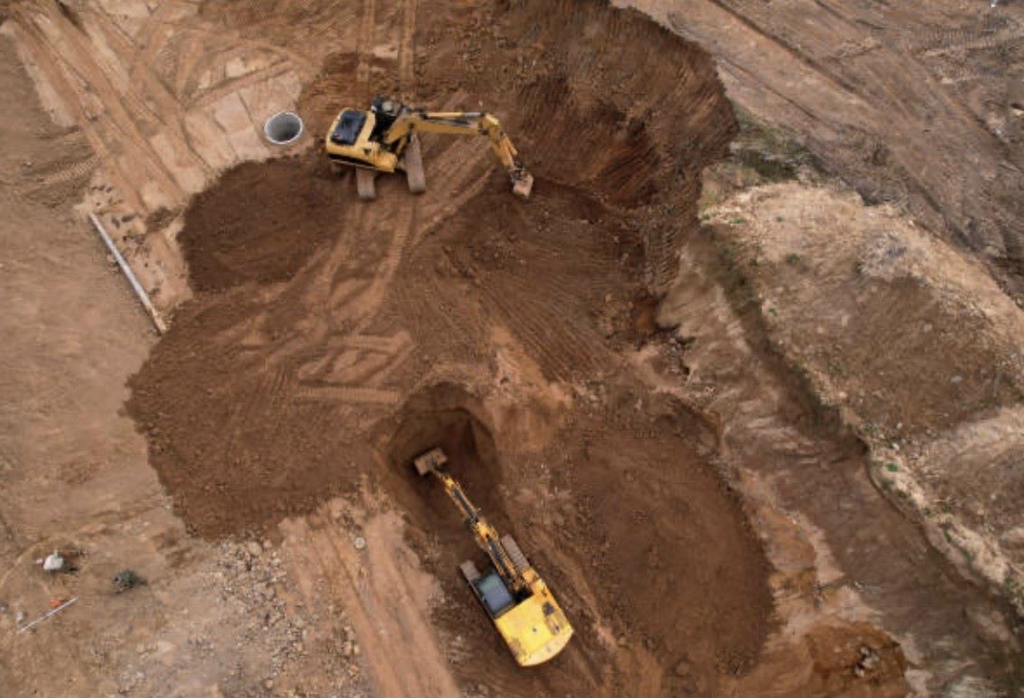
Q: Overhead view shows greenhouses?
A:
No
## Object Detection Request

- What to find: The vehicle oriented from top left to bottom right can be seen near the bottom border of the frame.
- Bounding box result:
[418,454,578,668]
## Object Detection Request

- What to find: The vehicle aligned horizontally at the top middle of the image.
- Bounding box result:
[324,101,535,202]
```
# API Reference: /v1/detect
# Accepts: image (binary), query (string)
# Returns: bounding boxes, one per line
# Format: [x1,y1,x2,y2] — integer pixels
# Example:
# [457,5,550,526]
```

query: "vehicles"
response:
[324,101,535,202]
[418,454,578,668]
